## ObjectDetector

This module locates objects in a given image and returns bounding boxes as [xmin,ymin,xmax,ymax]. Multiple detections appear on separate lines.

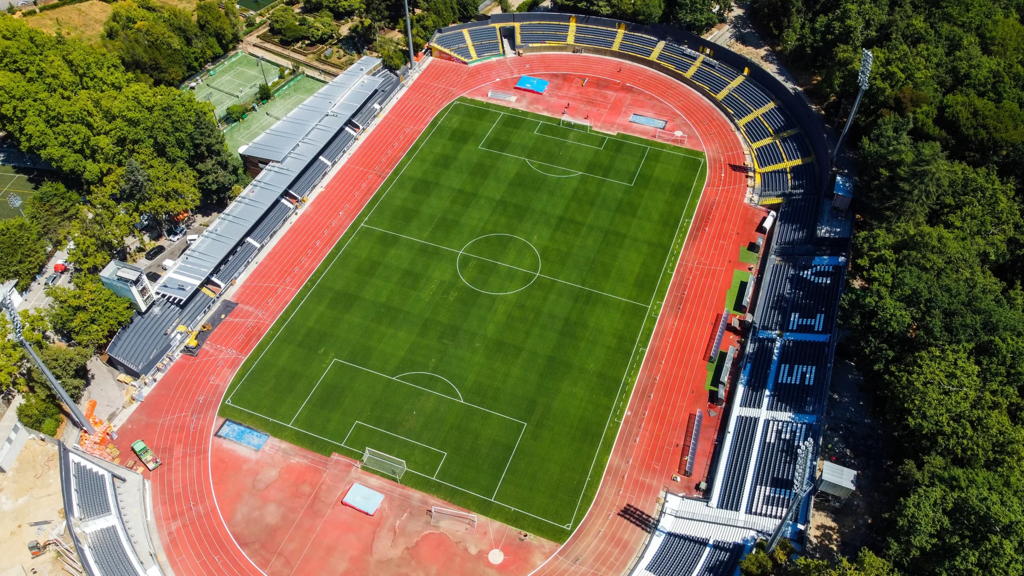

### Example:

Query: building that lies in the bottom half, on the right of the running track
[816,461,857,511]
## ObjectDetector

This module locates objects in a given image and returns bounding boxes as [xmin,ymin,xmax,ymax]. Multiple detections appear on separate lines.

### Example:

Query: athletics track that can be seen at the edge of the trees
[109,53,781,576]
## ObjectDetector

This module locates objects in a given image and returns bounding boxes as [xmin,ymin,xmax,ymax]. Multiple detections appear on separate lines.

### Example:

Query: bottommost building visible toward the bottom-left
[0,423,39,495]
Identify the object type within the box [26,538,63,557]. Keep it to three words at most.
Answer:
work vehicle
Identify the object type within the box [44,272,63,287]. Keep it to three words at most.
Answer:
car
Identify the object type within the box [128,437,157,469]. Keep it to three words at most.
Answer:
truck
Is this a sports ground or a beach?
sports ground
